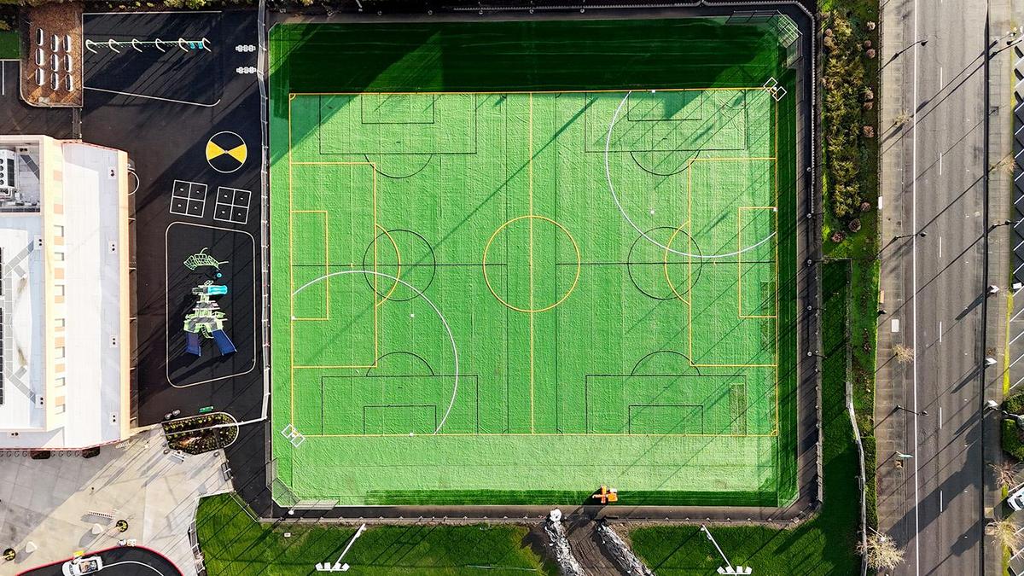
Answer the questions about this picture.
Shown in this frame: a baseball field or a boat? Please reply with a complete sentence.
This aerial view contains a baseball field.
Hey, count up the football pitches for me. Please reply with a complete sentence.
The count of football pitches comes to 3.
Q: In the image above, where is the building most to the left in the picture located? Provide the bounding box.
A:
[0,135,139,450]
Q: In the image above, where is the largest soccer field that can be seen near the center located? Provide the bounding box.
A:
[269,15,799,508]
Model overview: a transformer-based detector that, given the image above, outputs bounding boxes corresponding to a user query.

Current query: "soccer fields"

[298,92,508,435]
[556,90,767,435]
[269,15,799,508]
